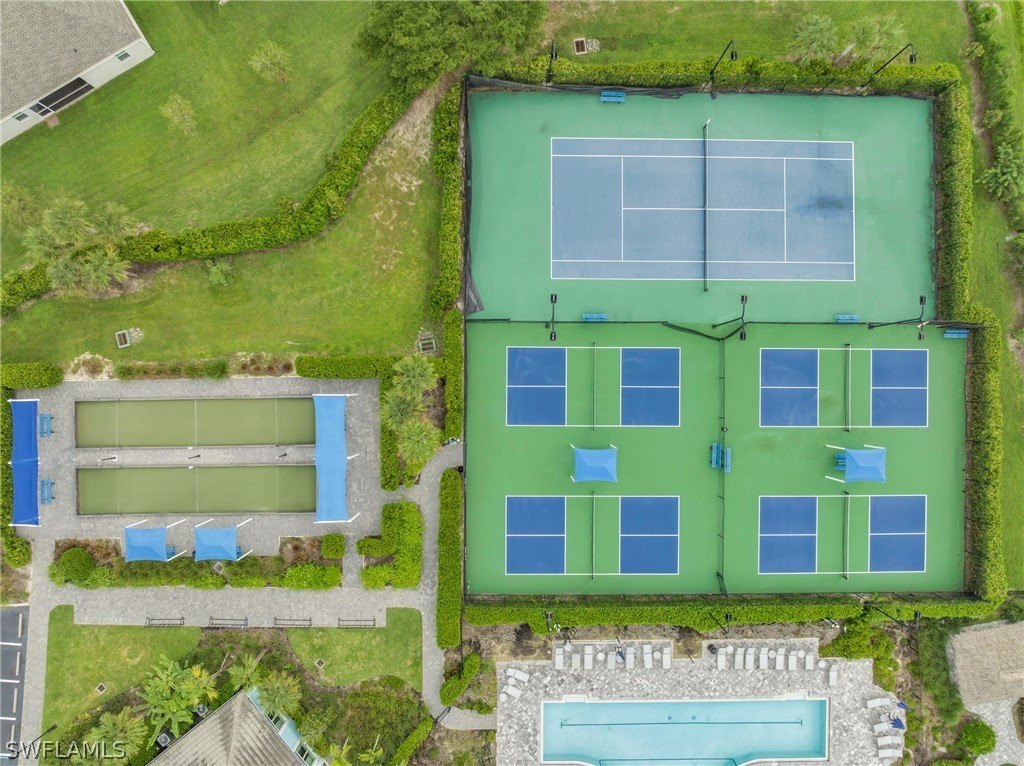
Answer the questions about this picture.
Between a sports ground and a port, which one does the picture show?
sports ground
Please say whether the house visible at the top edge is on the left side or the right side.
left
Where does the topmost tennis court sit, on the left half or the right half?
right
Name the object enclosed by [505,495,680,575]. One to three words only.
sports court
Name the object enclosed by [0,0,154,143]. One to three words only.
house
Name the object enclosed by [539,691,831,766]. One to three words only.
swimming pool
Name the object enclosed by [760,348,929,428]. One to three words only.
sports court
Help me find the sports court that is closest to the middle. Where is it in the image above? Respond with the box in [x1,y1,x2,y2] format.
[506,347,681,428]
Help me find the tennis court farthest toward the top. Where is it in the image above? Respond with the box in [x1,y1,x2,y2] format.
[466,88,937,323]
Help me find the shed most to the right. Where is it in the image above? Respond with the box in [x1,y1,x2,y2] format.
[943,616,1024,710]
